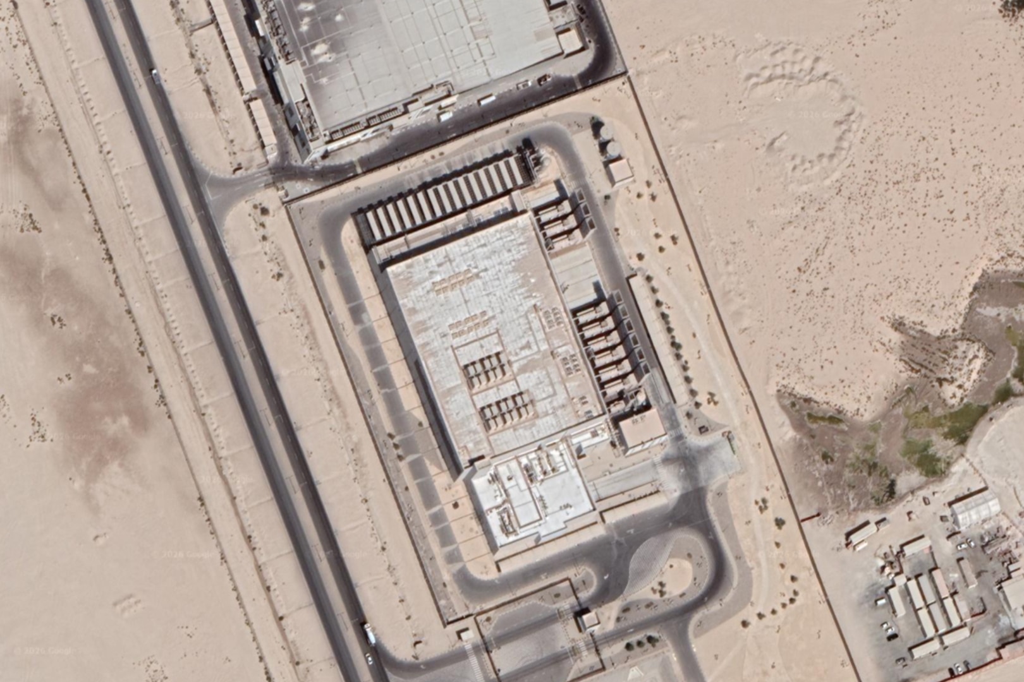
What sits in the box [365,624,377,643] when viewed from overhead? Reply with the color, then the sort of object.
white vehicle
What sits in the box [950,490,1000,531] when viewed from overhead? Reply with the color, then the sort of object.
white tent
